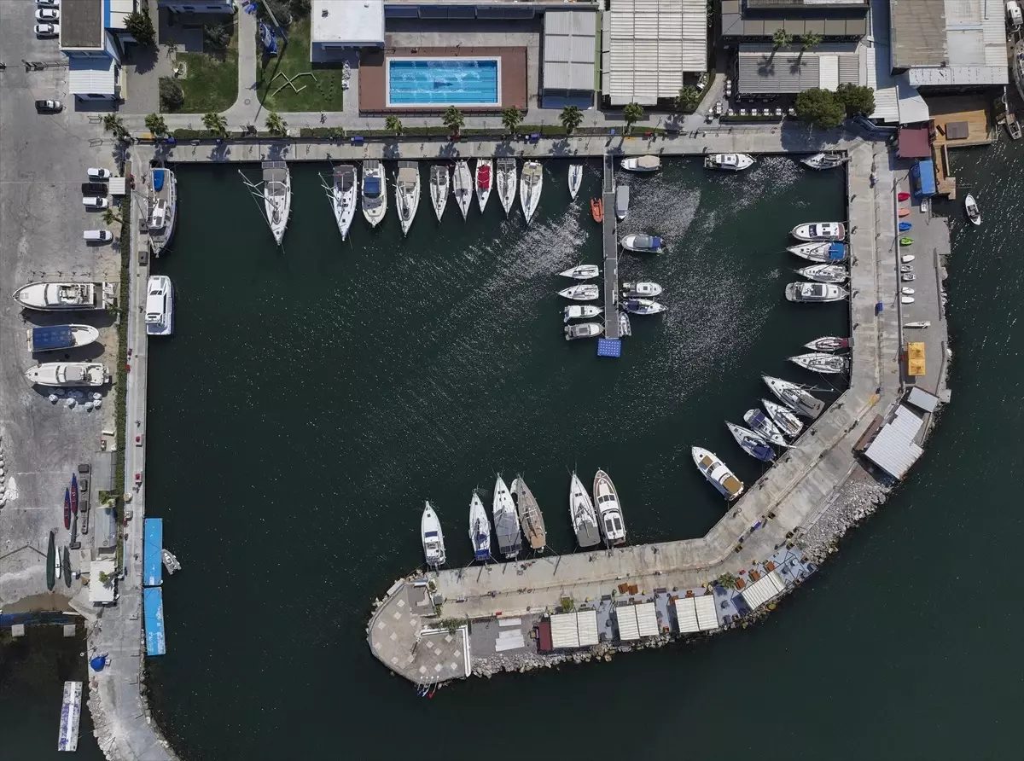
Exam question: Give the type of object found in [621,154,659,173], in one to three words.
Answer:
boat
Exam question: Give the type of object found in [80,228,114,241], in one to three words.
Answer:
vehicle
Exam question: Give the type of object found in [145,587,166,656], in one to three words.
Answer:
pier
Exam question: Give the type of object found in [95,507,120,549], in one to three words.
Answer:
shed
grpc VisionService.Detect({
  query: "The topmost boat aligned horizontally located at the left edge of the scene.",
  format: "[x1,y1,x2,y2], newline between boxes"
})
[9,282,118,311]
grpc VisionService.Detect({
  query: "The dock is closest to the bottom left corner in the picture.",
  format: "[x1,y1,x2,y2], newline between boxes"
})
[58,681,84,751]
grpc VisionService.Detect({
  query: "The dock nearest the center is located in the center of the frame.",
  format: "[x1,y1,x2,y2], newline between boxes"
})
[598,339,620,357]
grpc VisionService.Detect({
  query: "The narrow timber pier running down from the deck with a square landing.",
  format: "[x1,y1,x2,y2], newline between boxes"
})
[932,146,956,200]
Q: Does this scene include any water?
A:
Yes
